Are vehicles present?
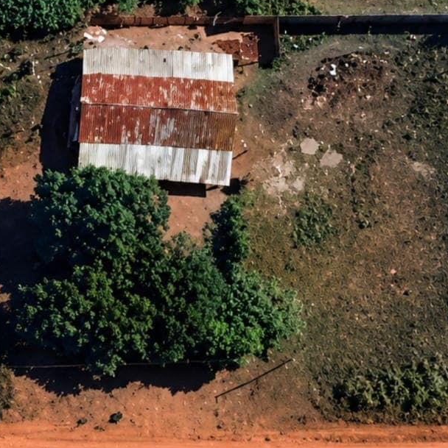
No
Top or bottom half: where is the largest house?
top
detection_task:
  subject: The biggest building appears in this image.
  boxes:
[68,47,238,188]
